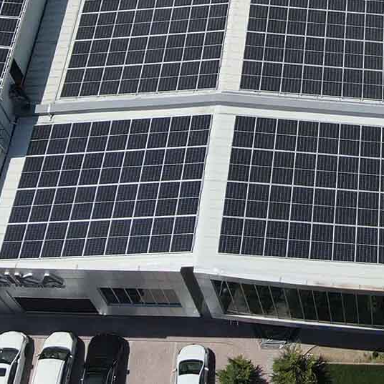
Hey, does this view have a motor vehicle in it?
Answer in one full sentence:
Yes, a motor vehicle appears in the view.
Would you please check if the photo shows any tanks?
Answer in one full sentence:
No, no tank is visible in the view.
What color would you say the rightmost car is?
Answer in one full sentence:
The color of the rightmost car is white.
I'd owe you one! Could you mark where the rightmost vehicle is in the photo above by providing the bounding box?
[169,345,210,384]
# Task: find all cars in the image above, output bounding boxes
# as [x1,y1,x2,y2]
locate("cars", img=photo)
[0,331,30,384]
[31,333,81,384]
[169,345,210,384]
[78,334,127,384]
